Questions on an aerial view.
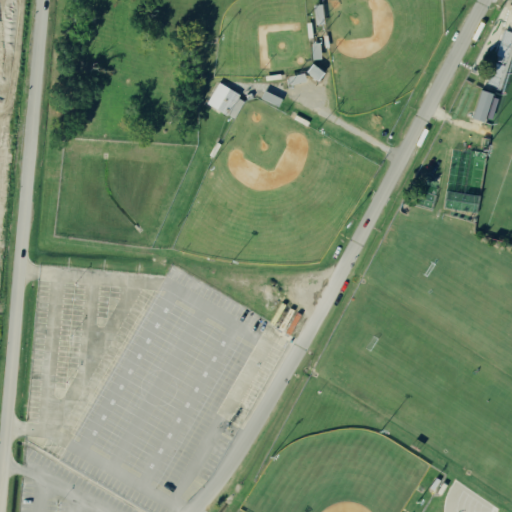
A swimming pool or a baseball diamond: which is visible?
baseball diamond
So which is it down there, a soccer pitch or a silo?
soccer pitch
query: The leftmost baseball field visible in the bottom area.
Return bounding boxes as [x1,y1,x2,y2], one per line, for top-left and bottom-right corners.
[242,430,430,512]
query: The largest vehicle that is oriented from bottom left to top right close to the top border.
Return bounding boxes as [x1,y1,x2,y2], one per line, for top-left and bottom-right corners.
[472,22,486,42]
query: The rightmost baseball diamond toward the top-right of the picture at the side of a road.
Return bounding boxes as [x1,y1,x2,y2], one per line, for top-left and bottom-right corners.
[328,0,442,114]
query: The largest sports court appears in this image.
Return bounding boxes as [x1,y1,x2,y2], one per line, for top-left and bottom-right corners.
[444,149,488,214]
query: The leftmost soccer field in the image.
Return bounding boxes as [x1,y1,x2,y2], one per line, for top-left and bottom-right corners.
[56,140,196,246]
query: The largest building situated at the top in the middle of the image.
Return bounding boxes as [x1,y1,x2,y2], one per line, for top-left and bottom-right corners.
[208,82,240,115]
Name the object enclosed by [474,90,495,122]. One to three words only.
building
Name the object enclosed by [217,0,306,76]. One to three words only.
baseball field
